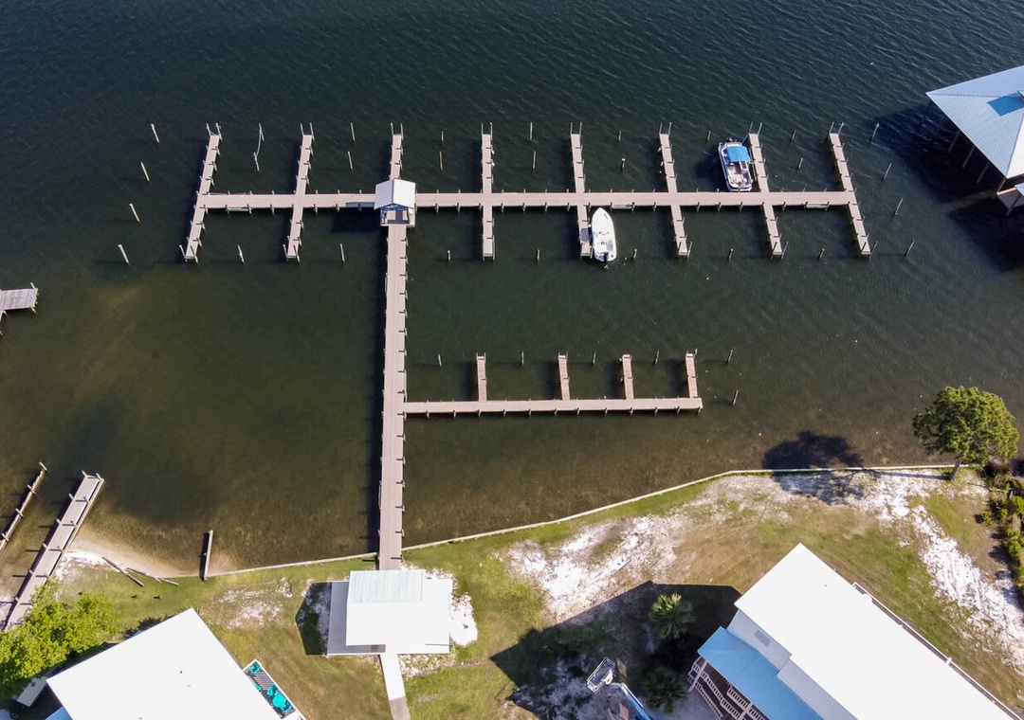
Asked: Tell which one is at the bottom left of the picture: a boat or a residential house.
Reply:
residential house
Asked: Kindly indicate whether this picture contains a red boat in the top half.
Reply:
No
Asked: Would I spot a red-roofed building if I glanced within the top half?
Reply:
No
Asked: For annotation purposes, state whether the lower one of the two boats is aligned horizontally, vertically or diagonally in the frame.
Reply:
vertically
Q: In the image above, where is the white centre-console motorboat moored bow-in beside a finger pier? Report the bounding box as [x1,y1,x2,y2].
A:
[592,206,618,264]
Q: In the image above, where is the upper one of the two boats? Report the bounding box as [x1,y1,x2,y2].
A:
[718,139,752,191]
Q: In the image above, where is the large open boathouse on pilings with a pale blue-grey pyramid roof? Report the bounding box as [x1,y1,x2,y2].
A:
[923,62,1024,219]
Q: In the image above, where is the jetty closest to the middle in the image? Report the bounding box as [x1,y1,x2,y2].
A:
[180,121,877,571]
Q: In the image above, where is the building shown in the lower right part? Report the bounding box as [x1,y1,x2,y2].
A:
[685,543,1024,720]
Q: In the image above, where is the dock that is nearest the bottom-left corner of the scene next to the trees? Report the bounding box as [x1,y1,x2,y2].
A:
[13,471,105,622]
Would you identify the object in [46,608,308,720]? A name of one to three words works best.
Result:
house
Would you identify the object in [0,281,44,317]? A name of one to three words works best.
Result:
pier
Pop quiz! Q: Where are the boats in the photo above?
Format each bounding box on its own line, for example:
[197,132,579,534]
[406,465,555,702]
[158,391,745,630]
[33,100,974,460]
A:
[718,139,752,191]
[592,206,618,264]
